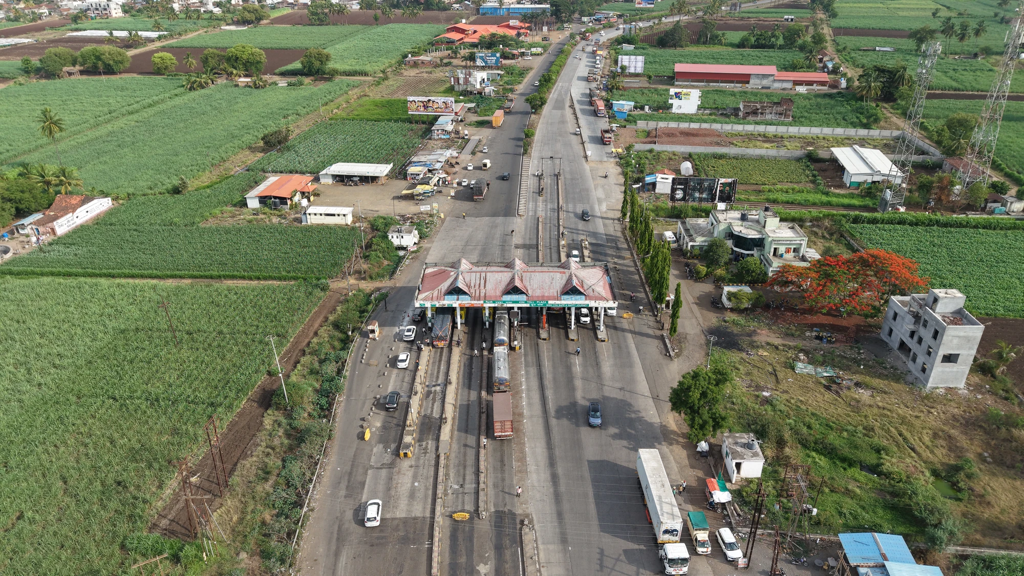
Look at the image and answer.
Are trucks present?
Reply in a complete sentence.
Yes, I can see a truck in this picture.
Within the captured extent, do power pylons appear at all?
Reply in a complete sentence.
Yes, a power pylon appears in the view.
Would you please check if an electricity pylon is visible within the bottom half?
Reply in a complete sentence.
Yes, the scene does show an electricity pylon within the bottom half.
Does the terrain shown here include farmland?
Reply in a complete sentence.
Yes, some farmland is visible.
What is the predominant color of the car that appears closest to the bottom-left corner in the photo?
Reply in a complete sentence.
From above, the car that appears closest to the bottom-left corner appears white.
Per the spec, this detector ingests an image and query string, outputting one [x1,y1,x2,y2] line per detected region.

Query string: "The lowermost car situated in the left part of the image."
[362,500,383,530]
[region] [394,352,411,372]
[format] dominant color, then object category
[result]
white car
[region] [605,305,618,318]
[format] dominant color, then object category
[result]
white vehicle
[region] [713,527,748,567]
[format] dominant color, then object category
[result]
white car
